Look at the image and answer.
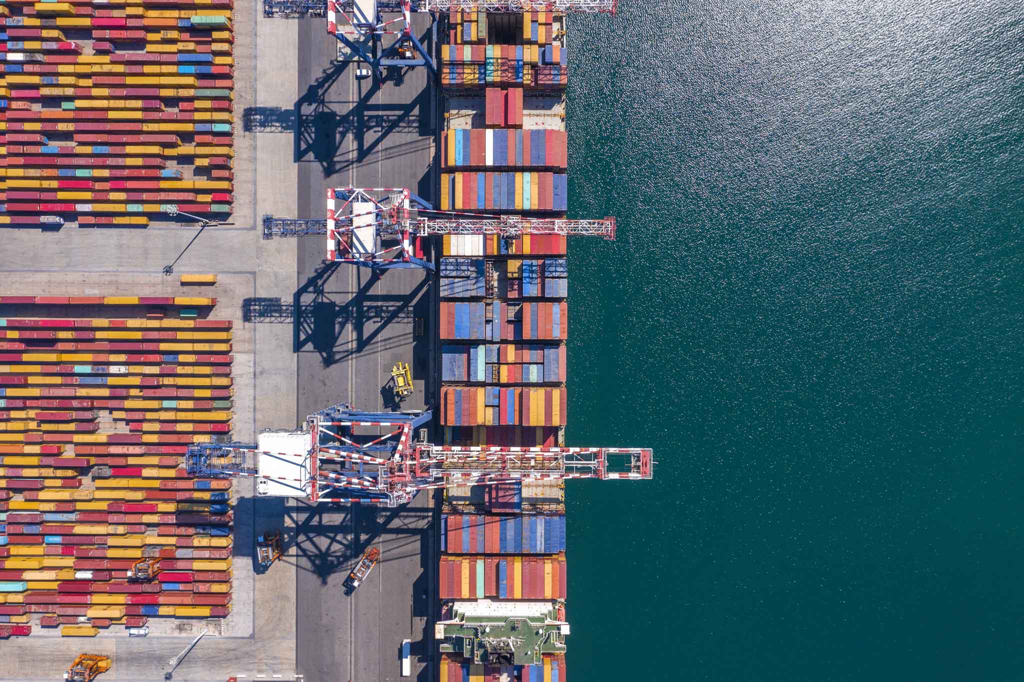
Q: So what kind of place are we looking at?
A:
port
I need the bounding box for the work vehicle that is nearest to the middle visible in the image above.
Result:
[393,365,418,398]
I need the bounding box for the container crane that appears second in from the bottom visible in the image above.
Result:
[260,188,616,286]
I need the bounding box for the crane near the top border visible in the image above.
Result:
[260,0,616,97]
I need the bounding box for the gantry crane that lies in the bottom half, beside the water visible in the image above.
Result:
[184,397,662,513]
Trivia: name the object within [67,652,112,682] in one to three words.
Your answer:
work vehicle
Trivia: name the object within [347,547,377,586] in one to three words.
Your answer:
work vehicle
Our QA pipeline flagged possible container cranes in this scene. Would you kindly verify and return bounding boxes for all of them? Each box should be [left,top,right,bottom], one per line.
[260,0,616,97]
[260,188,616,286]
[184,397,662,513]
